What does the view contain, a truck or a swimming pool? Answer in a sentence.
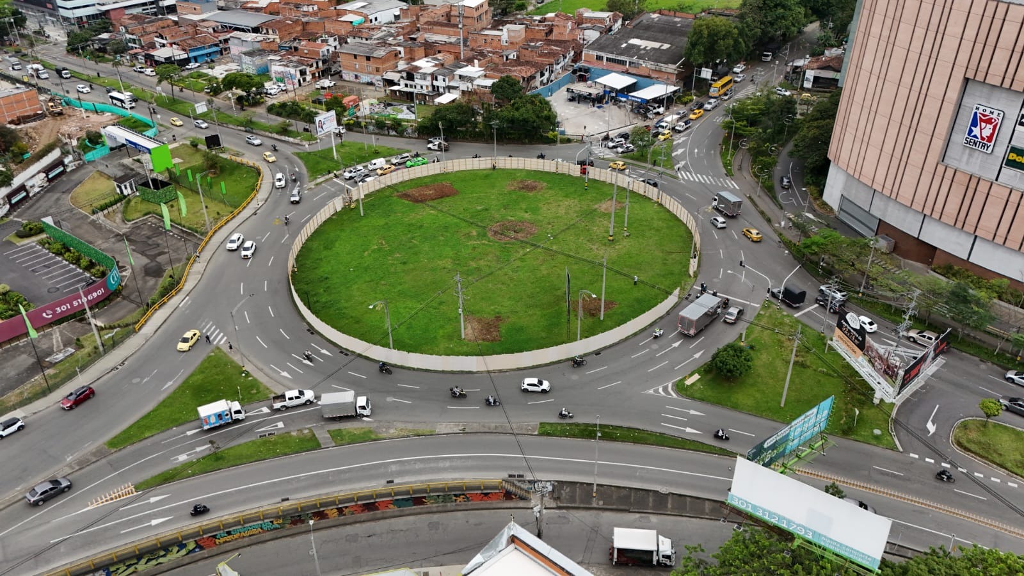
Visible in the photo is a truck.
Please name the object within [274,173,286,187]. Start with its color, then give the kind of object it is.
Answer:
white vehicle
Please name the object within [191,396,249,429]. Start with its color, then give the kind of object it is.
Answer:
white truck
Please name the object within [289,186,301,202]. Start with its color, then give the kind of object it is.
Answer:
gray vehicle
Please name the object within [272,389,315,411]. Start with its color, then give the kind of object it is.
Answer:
white truck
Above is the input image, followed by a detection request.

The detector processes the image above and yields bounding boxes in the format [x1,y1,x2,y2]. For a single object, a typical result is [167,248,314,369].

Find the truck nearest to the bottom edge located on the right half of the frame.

[607,526,676,563]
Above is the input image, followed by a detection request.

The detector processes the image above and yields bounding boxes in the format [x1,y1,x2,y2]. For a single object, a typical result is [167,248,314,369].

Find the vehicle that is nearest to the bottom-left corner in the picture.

[25,478,73,508]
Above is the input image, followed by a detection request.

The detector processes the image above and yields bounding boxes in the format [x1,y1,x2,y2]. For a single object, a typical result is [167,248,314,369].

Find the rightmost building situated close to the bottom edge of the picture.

[457,512,591,576]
